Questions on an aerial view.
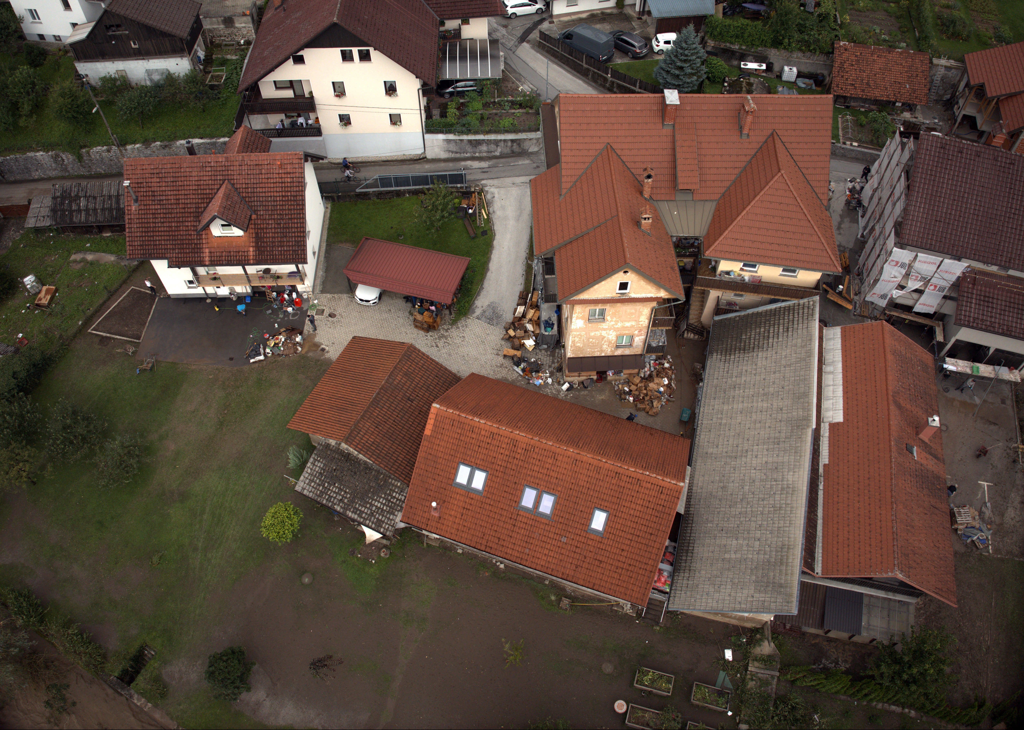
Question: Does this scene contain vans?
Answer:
Yes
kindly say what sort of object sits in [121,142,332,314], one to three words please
house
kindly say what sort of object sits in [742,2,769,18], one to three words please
boat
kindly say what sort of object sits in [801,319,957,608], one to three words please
barn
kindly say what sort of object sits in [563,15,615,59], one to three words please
van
